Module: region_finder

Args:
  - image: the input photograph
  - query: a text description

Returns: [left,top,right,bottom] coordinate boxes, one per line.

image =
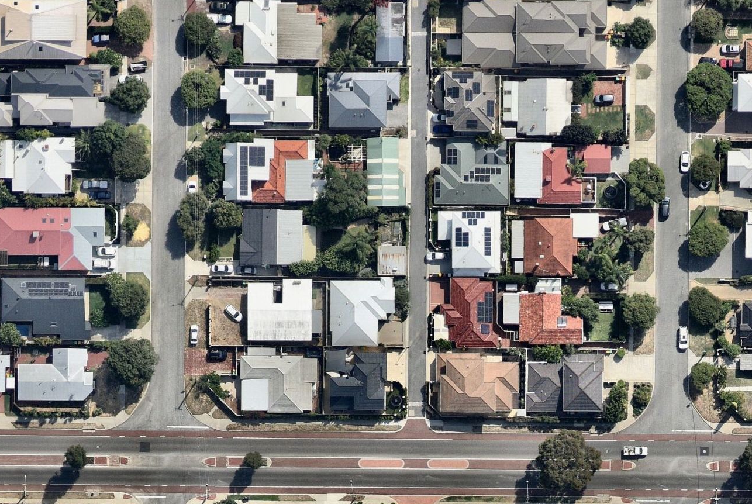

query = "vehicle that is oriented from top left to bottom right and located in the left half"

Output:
[224,303,241,321]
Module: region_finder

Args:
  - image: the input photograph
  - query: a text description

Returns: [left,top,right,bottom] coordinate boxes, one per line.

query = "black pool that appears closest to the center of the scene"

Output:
[328,142,347,161]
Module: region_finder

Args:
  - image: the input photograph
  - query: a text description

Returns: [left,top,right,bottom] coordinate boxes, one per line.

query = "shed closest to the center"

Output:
[378,245,406,276]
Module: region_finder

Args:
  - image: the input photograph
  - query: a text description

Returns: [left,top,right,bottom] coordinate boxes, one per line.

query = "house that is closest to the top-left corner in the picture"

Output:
[0,0,88,59]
